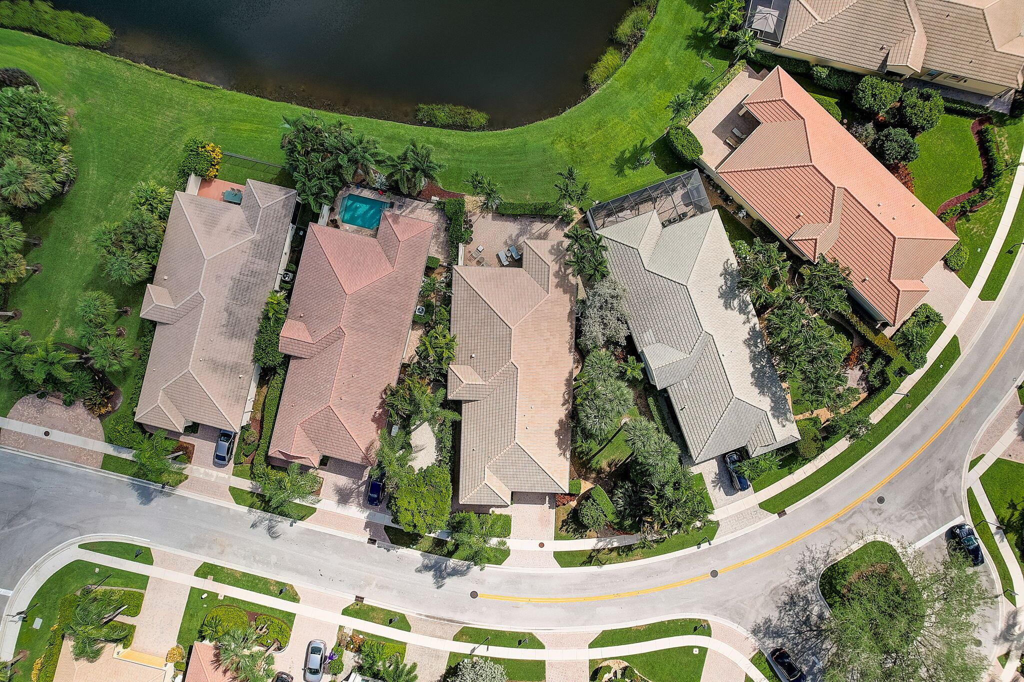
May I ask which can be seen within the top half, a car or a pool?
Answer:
pool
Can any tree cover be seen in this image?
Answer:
Yes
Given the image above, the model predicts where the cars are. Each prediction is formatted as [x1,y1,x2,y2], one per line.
[303,638,326,682]
[276,671,295,682]
[772,646,809,682]
[721,449,752,494]
[213,429,239,468]
[364,467,389,506]
[348,670,385,682]
[949,519,985,568]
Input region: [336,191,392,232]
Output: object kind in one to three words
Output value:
swimming pool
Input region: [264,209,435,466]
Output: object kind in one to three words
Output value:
house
